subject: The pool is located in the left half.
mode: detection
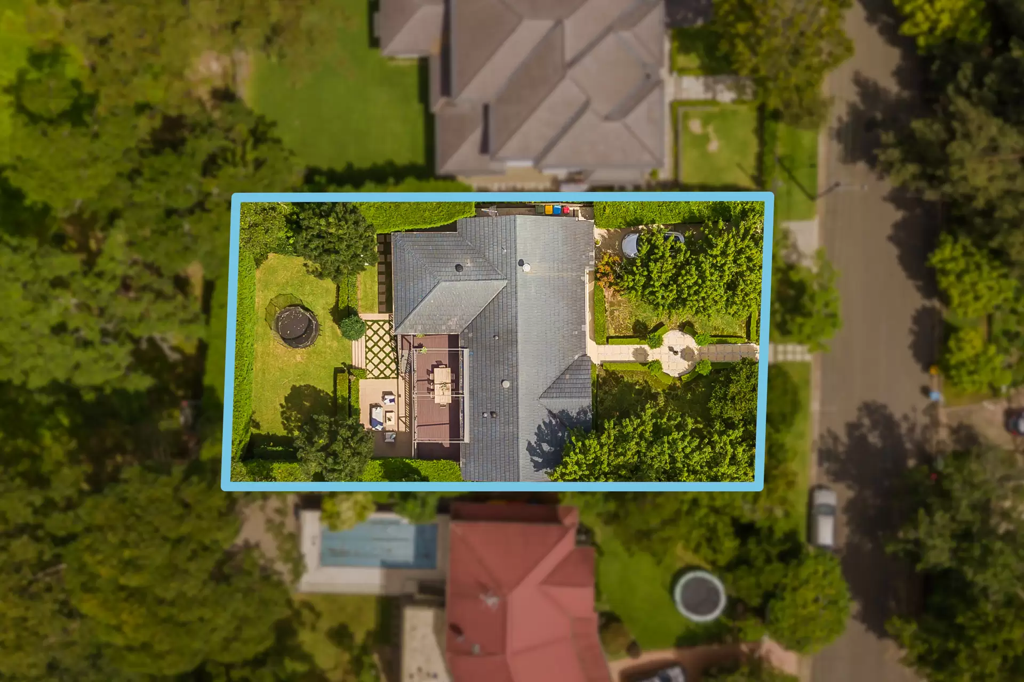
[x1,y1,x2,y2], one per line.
[300,509,448,592]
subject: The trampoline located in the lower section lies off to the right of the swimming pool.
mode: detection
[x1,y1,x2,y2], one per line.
[672,567,725,622]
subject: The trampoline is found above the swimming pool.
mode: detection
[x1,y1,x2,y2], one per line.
[268,303,325,350]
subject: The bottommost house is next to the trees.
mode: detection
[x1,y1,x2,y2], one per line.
[448,500,603,682]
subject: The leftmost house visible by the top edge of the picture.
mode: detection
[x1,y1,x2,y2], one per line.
[379,0,665,185]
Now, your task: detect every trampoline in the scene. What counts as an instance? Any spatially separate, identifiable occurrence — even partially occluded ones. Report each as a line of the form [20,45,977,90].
[672,567,725,622]
[268,303,325,350]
